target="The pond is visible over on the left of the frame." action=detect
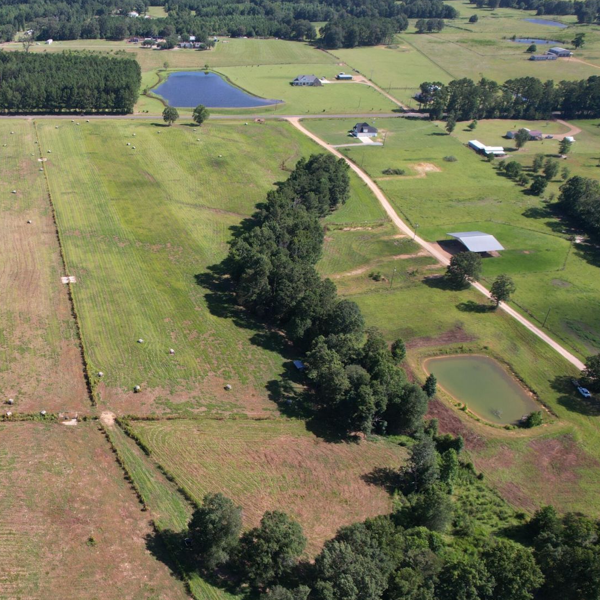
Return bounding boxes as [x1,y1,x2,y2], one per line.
[153,71,284,108]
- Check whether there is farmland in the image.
Yes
